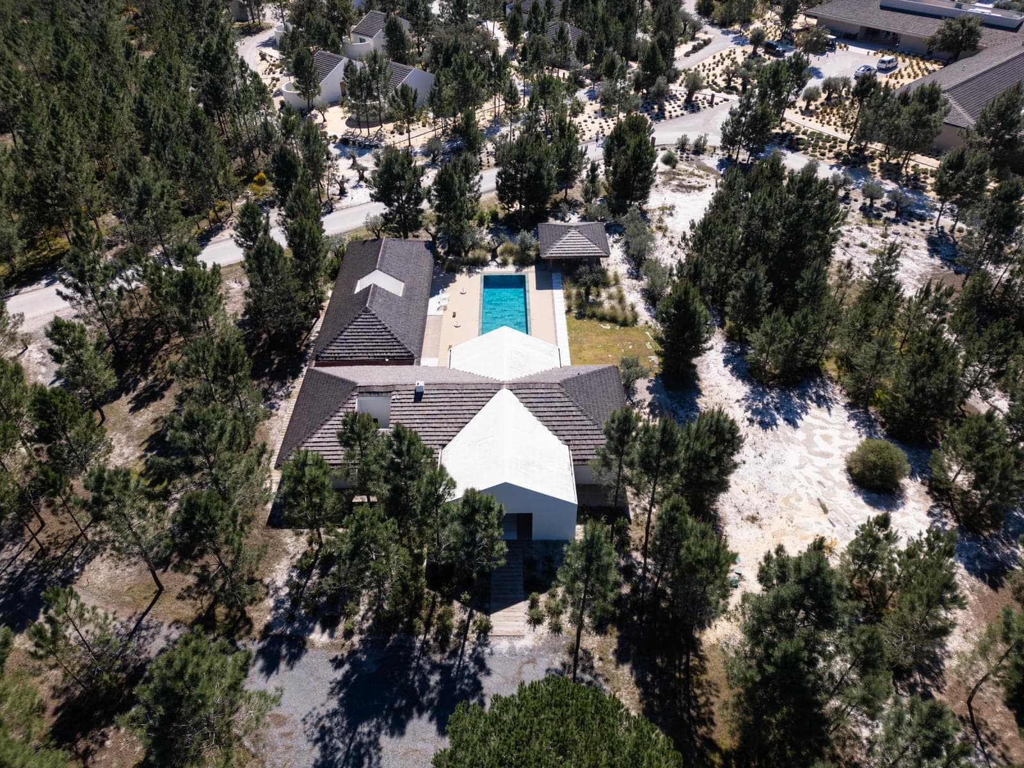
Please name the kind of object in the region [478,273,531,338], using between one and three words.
swimming pool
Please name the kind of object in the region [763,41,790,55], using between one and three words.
car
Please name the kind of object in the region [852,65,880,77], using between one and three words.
vehicle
